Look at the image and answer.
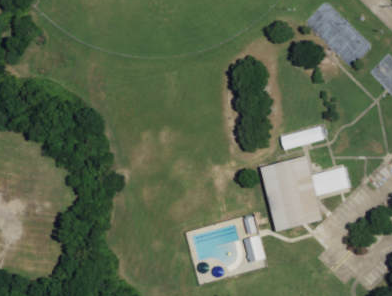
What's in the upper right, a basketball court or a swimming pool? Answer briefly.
basketball court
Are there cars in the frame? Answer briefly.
No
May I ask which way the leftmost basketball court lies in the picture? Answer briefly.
at an angle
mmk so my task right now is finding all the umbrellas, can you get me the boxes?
[197,263,208,274]
[212,266,223,278]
